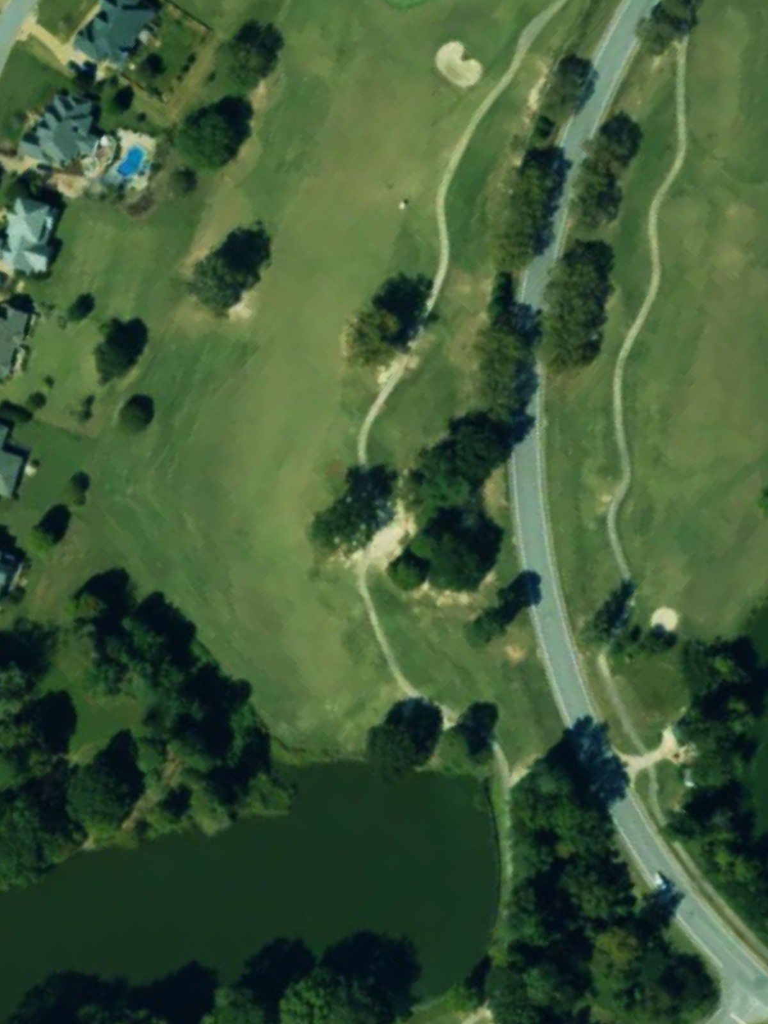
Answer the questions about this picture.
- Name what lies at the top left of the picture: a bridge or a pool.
pool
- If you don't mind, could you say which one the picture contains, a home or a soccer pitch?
home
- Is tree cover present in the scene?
Yes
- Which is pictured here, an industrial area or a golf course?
golf course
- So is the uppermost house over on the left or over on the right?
left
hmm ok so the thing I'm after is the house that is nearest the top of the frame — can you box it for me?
[75,0,160,67]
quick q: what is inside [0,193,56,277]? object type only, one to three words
house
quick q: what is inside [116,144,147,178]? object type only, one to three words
swimming pool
